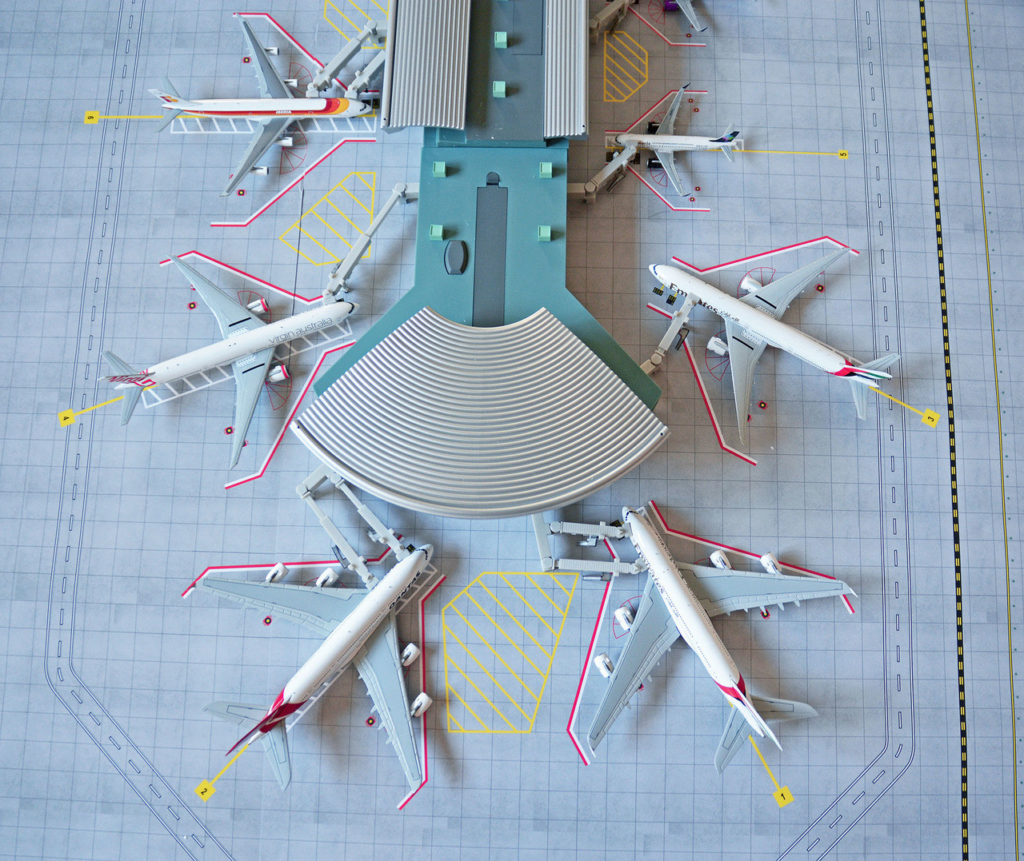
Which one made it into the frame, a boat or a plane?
plane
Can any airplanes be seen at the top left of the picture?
Yes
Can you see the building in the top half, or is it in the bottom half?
top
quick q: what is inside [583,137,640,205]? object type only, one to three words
jet bridge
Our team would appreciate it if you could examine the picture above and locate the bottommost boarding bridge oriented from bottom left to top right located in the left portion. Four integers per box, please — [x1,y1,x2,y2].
[321,182,410,308]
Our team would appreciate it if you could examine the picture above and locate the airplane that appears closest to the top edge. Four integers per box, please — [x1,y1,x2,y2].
[665,0,707,31]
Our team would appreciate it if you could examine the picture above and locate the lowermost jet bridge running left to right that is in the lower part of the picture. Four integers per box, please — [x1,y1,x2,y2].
[540,555,648,581]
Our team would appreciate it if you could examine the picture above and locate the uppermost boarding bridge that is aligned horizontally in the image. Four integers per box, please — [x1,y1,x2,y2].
[548,519,629,547]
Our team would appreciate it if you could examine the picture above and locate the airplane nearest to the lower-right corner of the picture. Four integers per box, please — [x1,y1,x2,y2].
[589,509,858,769]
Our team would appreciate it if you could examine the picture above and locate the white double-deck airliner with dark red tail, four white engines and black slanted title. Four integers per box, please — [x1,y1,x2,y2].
[199,545,434,791]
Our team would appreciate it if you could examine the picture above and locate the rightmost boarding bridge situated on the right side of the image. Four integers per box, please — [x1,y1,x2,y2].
[649,291,701,372]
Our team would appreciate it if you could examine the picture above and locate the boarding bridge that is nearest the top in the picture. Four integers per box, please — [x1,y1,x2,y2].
[589,0,634,45]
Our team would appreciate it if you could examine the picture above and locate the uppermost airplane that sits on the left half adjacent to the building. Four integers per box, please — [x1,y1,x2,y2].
[148,9,372,196]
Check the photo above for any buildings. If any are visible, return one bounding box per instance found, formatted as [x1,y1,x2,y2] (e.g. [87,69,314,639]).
[292,0,670,568]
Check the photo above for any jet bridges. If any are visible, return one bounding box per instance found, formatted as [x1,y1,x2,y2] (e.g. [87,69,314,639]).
[329,472,412,562]
[321,182,410,308]
[649,291,701,372]
[583,137,640,205]
[589,0,634,45]
[296,483,382,592]
[306,18,382,101]
[548,519,629,547]
[540,555,648,581]
[344,46,386,103]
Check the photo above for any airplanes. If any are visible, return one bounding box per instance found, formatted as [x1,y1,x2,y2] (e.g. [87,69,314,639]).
[589,509,858,769]
[199,545,434,791]
[665,0,707,31]
[649,245,901,445]
[97,254,360,468]
[612,81,739,195]
[148,9,372,196]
